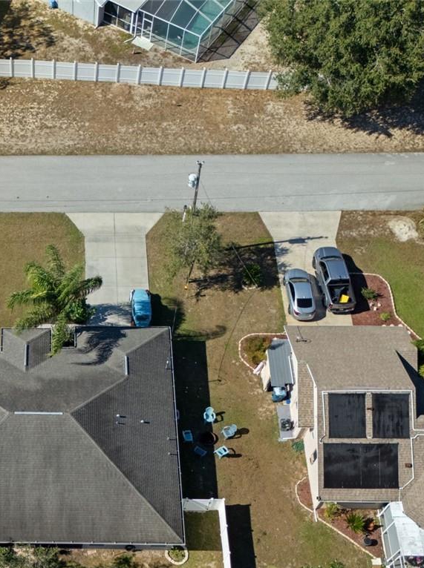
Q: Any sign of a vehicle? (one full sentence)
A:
Yes, the image includes a vehicle.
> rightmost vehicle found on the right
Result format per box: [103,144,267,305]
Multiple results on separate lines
[313,254,354,316]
